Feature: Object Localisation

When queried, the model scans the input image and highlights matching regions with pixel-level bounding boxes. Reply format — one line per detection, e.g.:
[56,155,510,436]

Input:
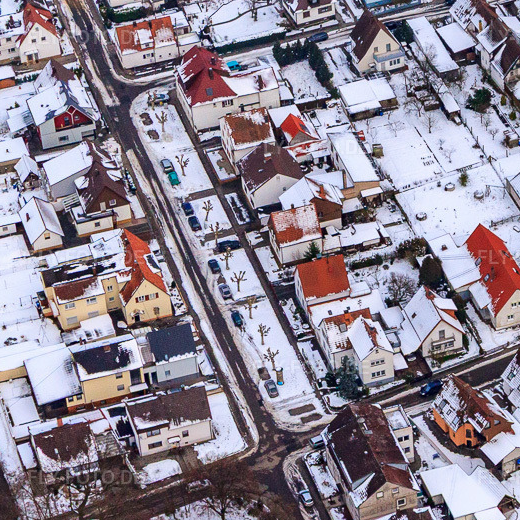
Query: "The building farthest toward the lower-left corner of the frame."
[17,442,39,479]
